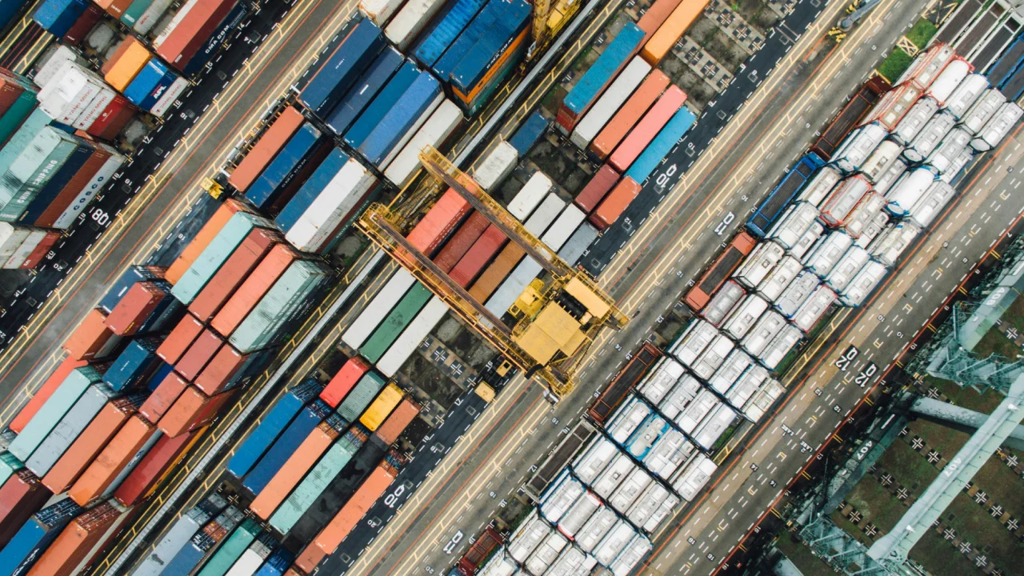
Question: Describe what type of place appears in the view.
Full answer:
The area seen from above is an industrial area.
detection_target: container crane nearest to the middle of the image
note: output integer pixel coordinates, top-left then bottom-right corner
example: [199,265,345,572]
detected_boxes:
[352,137,625,400]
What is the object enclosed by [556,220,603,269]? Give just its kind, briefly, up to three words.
shipping container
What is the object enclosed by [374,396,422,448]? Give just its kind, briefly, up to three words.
shipping container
